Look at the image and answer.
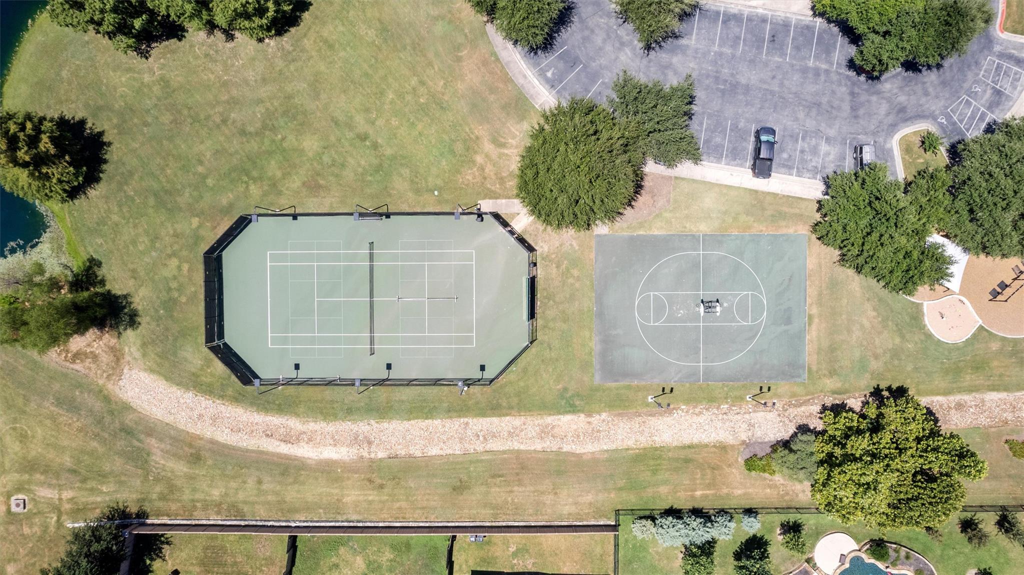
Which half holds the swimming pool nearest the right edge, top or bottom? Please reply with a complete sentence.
It is in the bottom half that the swimming pool nearest the right edge appears.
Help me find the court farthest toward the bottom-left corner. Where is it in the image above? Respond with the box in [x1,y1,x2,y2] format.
[215,215,529,383]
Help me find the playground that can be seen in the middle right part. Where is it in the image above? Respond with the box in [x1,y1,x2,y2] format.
[889,209,1024,338]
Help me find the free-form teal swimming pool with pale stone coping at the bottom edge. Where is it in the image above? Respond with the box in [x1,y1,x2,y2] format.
[843,552,912,575]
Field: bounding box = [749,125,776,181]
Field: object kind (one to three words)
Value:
truck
